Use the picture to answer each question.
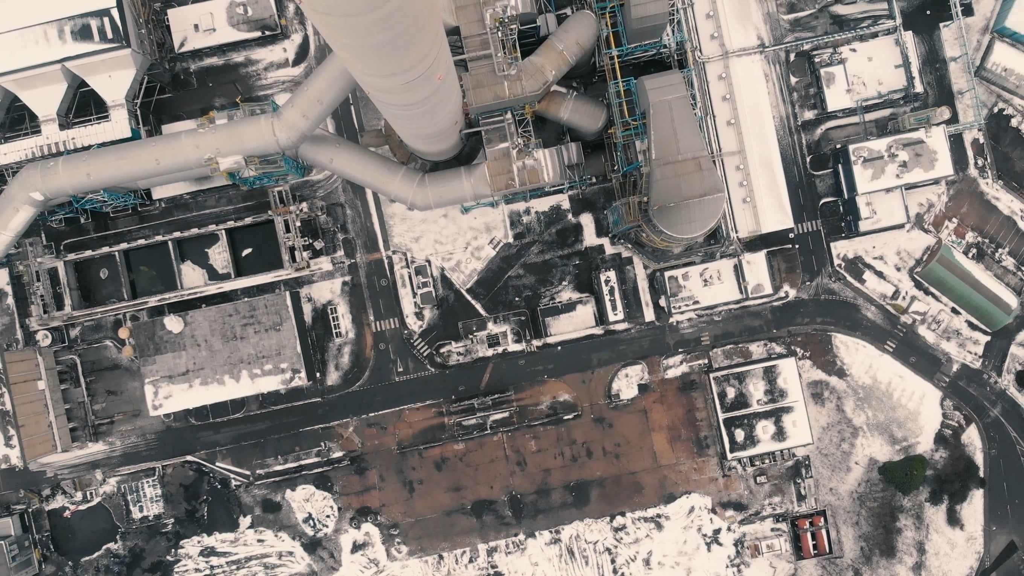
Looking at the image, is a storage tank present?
Yes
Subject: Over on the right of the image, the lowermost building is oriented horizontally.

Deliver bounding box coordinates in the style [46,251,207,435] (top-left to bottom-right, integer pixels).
[746,534,790,558]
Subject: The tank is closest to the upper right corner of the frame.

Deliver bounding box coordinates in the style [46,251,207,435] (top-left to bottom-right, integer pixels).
[782,56,812,84]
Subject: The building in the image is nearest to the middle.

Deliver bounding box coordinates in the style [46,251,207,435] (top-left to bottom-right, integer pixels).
[598,268,624,322]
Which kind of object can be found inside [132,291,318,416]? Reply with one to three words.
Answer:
building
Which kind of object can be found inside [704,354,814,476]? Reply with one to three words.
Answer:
building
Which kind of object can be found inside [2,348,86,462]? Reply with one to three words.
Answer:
shed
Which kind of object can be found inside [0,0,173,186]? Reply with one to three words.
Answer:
house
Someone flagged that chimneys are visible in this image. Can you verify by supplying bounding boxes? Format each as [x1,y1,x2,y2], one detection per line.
[295,0,475,168]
